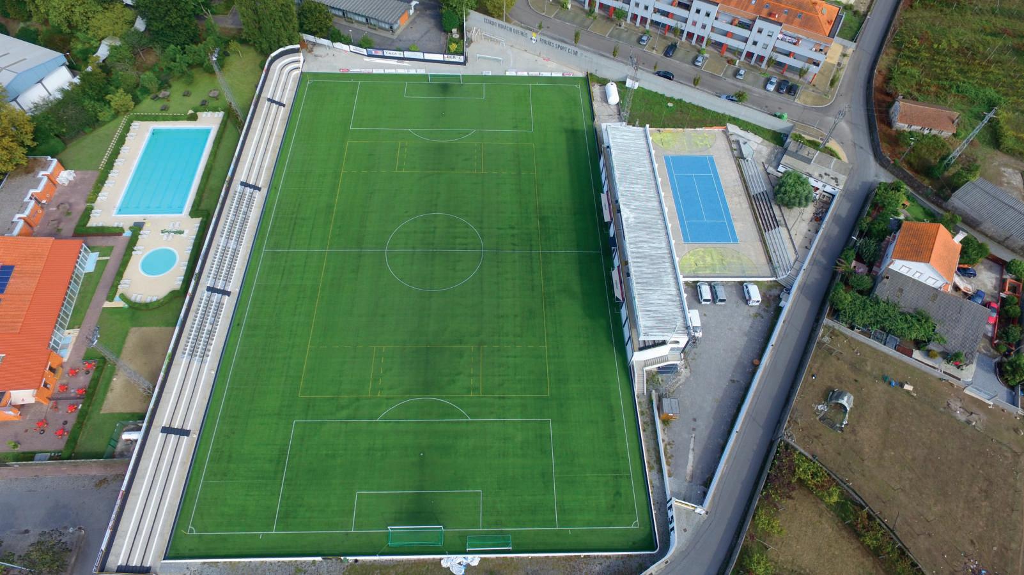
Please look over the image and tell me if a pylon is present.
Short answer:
Yes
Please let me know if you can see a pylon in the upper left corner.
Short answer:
No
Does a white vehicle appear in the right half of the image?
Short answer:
Yes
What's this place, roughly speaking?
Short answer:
sports ground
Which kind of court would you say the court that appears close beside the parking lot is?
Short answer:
tennis court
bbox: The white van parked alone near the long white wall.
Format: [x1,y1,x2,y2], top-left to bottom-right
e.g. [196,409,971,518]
[744,282,763,304]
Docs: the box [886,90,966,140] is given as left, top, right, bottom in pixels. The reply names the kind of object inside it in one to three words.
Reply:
barn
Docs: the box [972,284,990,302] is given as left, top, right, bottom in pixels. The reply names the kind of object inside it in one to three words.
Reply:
car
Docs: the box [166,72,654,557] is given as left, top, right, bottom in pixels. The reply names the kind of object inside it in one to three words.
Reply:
soccer field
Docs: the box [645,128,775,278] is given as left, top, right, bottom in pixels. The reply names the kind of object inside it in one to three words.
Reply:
tennis court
